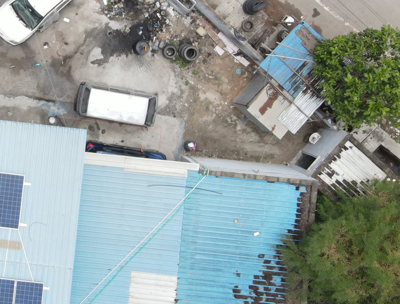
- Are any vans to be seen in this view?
Yes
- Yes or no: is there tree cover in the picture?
Yes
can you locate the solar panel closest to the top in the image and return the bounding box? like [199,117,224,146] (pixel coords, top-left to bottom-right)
[0,172,25,229]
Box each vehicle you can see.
[72,79,159,132]
[86,135,166,156]
[0,0,70,44]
